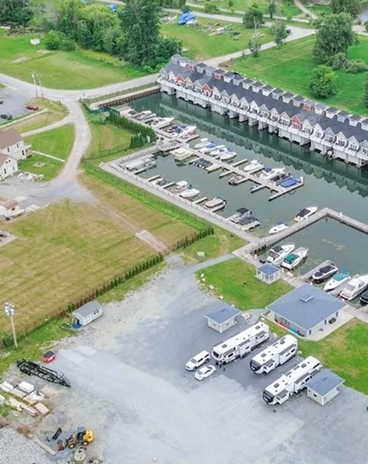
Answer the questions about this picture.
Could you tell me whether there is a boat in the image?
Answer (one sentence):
Yes, there is a boat in the image.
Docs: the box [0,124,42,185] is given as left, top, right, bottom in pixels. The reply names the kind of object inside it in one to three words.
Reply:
house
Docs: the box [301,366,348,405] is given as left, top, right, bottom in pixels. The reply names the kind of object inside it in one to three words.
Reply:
shed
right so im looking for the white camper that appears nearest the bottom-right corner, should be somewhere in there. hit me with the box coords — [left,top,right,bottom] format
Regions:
[262,352,321,399]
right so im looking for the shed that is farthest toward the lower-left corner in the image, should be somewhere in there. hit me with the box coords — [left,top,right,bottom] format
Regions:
[67,297,103,329]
